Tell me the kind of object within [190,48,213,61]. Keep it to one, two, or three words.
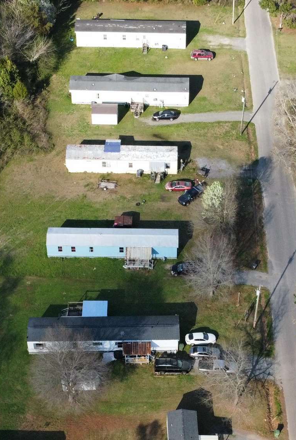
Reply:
vehicle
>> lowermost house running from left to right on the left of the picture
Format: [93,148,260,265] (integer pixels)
[26,300,179,362]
